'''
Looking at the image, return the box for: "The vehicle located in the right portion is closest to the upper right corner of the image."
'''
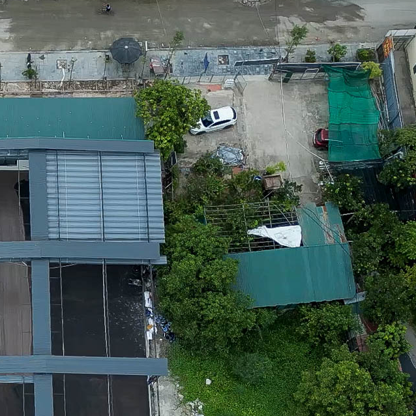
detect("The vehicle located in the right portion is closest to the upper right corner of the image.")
[308,126,328,151]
